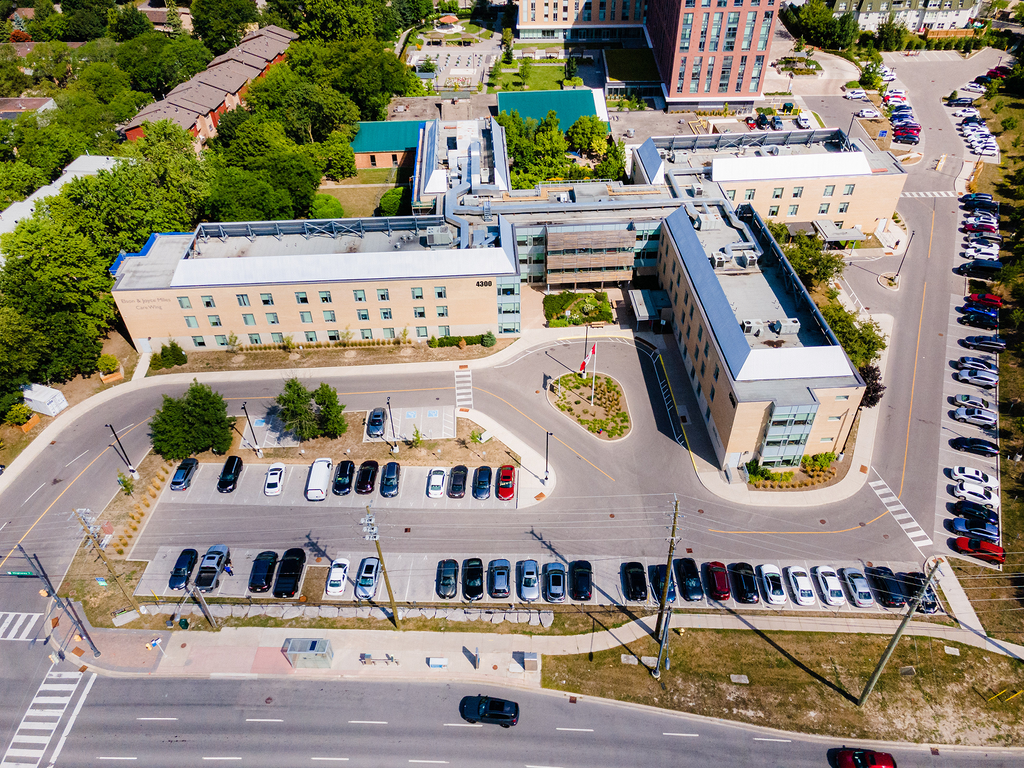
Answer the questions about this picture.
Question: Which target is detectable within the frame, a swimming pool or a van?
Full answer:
This aerial view contains a van.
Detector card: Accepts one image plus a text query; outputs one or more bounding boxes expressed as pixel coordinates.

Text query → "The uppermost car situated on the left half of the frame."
[366,408,387,437]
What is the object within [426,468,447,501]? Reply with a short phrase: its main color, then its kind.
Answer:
white car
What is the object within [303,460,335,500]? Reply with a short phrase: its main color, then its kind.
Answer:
white van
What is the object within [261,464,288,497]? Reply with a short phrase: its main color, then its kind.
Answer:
white car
